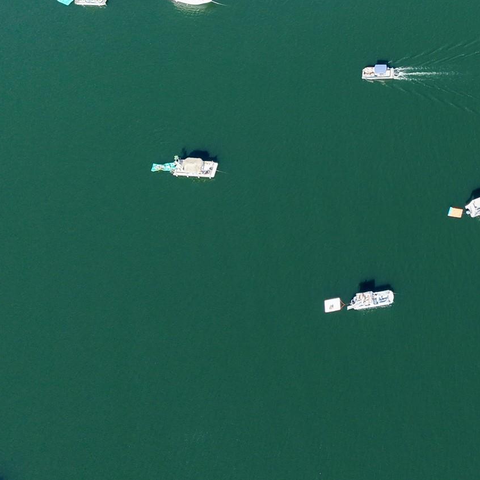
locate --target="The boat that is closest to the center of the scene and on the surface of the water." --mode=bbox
[172,157,219,178]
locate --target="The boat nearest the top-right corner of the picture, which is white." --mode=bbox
[362,65,397,79]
